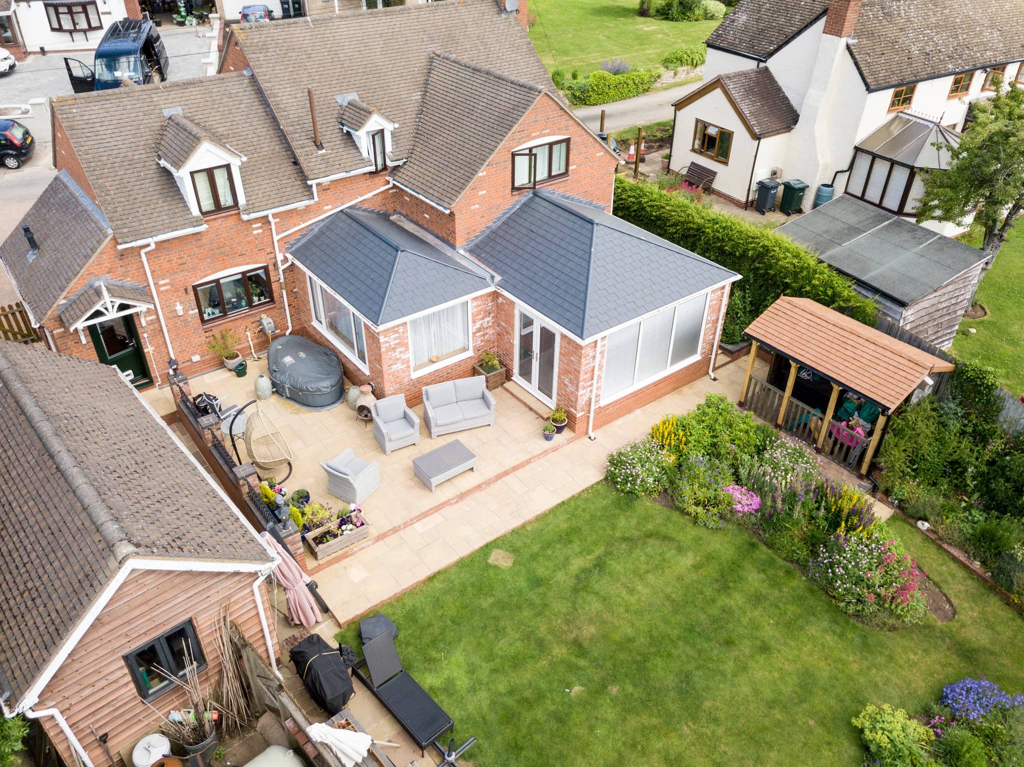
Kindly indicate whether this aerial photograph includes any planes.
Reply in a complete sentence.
No, there isn't any plane down there.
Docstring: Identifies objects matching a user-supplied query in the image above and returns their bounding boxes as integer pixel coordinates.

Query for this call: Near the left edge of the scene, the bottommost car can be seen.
[0,105,44,160]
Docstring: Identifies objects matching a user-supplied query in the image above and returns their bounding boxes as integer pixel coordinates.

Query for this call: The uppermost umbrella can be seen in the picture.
[260,512,328,643]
